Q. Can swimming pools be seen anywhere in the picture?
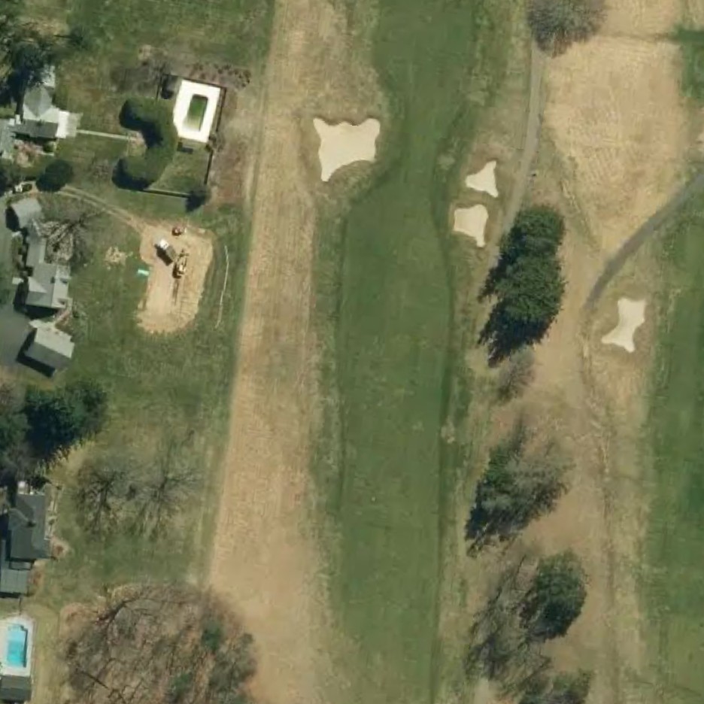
Yes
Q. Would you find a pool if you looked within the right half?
No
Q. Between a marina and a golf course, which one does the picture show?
golf course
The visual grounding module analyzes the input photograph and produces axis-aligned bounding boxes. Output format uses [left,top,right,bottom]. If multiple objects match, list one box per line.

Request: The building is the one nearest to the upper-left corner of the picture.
[0,66,82,160]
